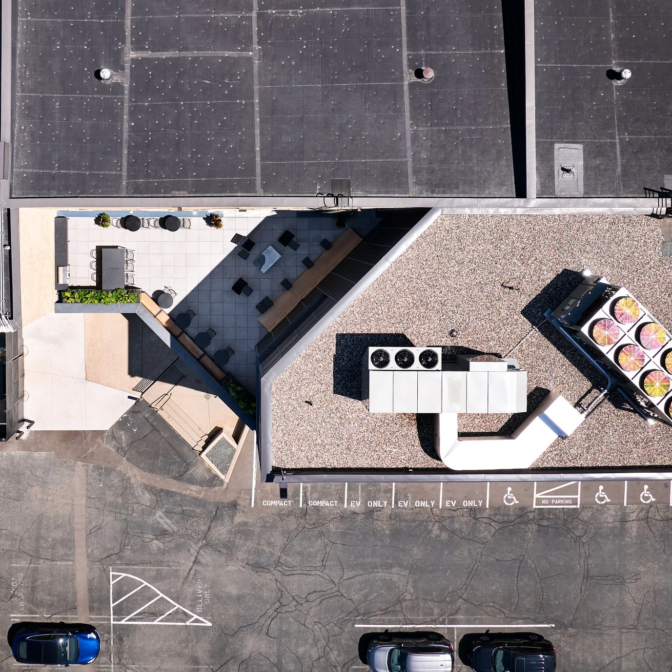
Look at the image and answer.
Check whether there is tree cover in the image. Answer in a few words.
No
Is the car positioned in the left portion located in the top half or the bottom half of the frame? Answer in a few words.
bottom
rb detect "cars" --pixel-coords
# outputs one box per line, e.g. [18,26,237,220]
[367,640,455,672]
[13,621,104,671]
[467,642,558,672]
